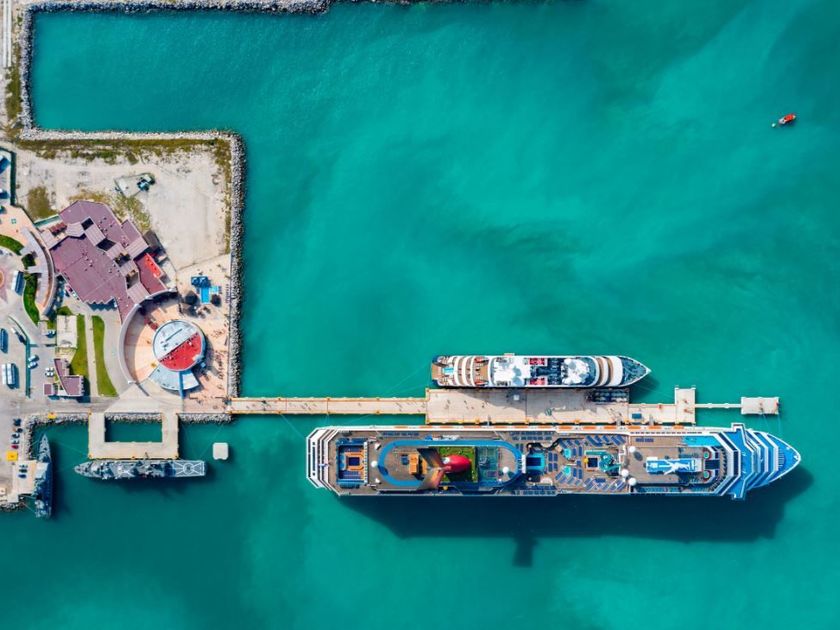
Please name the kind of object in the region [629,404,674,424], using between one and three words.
pier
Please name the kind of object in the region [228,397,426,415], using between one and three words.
pier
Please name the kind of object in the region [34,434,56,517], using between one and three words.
ship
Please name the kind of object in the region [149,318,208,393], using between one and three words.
building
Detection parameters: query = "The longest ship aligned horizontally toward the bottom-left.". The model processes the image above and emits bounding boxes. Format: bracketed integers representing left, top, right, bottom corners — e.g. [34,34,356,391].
[74,459,208,479]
